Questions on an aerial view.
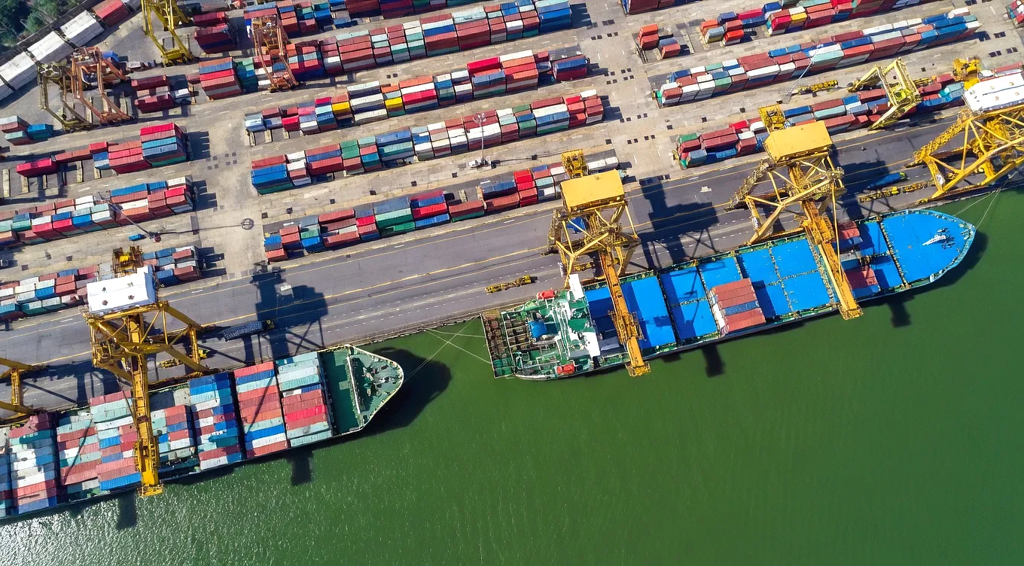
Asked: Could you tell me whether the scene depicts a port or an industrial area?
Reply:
port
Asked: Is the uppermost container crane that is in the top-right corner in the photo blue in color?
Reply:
No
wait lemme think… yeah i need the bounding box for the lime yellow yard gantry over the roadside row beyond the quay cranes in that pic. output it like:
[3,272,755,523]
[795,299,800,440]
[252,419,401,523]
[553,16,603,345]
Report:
[849,55,920,131]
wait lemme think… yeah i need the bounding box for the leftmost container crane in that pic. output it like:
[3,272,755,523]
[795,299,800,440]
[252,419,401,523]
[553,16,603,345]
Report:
[0,362,41,420]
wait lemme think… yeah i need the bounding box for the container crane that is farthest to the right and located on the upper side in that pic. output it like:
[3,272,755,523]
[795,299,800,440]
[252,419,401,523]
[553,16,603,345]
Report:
[906,61,1024,202]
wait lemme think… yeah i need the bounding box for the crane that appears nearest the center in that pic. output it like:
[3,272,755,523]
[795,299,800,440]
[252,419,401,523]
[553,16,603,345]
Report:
[543,149,652,379]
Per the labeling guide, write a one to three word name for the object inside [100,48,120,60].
vehicle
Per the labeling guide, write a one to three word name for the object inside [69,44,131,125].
container crane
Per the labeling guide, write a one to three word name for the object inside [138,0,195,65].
container crane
